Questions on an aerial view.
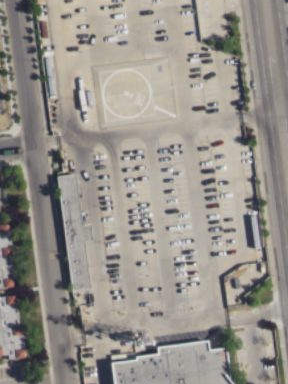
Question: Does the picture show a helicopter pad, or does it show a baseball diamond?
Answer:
helicopter pad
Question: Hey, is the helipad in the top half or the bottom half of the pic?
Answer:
top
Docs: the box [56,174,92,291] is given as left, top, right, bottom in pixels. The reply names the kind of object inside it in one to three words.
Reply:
building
